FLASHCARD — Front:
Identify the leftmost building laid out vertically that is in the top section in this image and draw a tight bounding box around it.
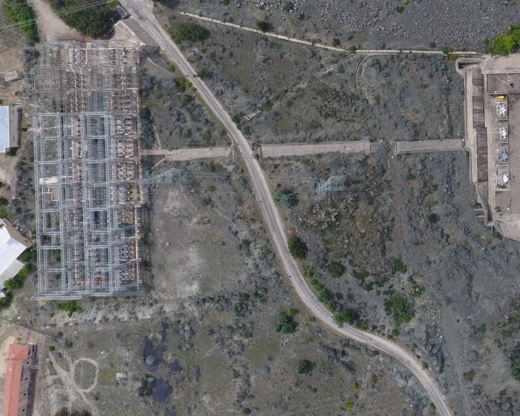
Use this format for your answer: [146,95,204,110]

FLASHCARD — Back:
[0,106,20,152]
